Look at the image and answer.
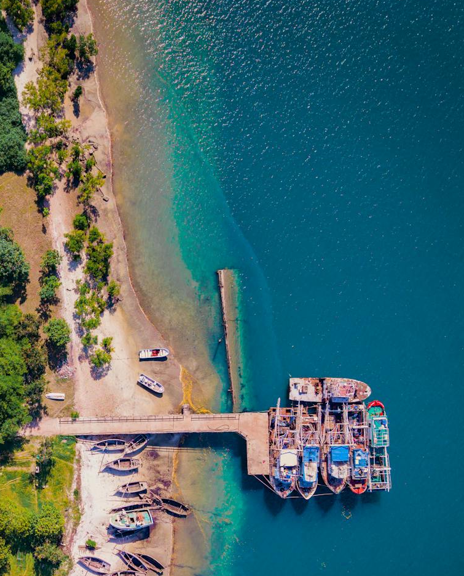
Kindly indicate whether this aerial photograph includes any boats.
Yes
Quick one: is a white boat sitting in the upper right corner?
No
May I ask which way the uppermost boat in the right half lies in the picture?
horizontally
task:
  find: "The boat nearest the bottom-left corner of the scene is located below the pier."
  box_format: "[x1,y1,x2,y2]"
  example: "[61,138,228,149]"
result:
[73,555,111,575]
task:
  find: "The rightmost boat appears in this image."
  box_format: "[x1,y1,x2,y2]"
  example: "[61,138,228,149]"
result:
[367,400,392,492]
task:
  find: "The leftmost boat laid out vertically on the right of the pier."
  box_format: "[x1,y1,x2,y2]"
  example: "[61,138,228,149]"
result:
[269,399,303,498]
